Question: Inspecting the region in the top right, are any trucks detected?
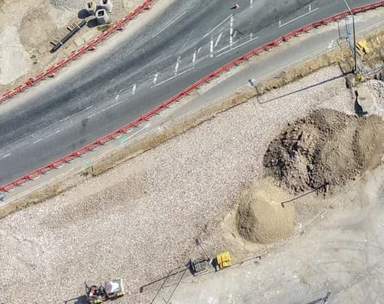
No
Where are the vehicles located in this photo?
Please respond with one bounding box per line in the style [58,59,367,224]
[86,277,122,304]
[197,247,232,275]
